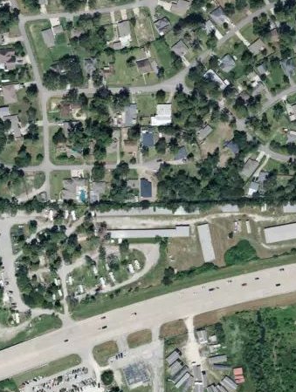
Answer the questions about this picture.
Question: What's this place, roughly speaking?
residential area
